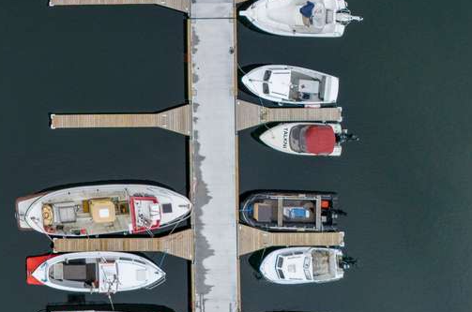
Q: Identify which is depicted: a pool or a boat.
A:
boat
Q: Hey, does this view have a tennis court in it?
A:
No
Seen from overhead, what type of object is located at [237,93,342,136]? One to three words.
pier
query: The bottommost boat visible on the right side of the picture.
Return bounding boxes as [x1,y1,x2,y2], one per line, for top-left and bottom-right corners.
[259,245,358,283]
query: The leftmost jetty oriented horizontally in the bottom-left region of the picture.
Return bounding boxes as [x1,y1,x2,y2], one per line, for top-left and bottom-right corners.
[52,223,193,266]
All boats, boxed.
[259,245,358,283]
[26,252,168,309]
[239,0,364,37]
[241,65,339,105]
[241,191,342,231]
[259,122,360,156]
[14,185,195,238]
